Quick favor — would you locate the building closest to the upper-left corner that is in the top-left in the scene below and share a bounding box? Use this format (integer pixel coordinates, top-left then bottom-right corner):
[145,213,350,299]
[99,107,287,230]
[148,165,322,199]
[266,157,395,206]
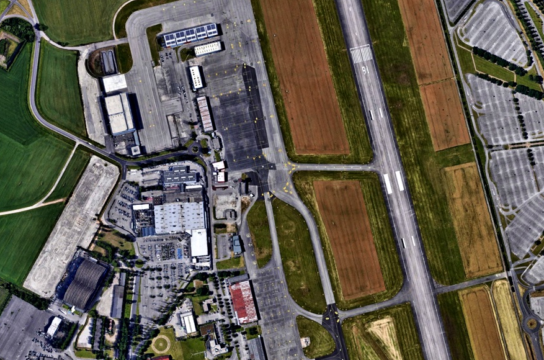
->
[102,74,129,92]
